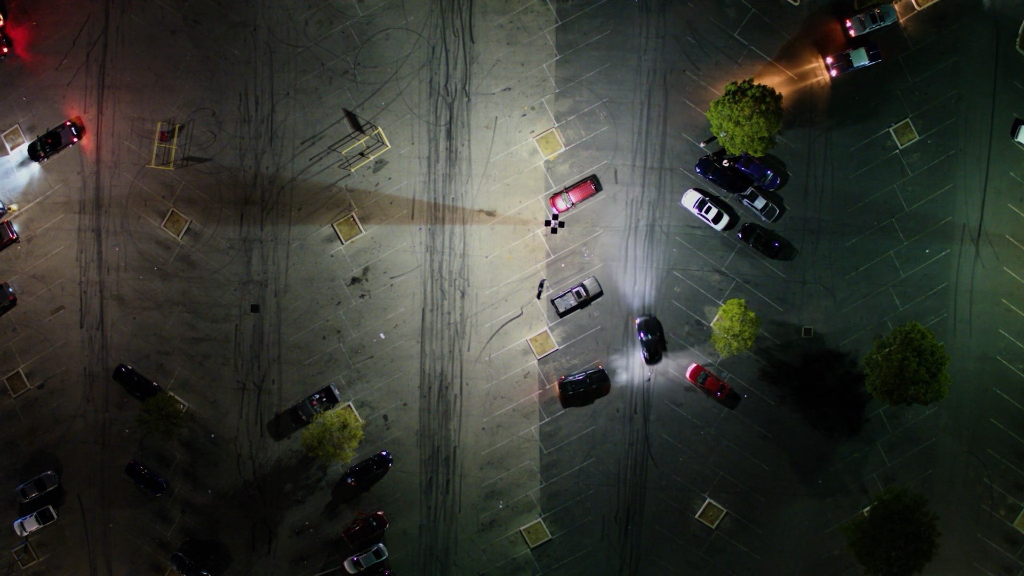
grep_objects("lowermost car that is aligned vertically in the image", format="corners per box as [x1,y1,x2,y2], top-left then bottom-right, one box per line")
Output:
[635,314,662,365]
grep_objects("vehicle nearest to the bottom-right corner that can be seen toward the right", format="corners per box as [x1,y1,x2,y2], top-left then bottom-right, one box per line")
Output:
[686,364,736,406]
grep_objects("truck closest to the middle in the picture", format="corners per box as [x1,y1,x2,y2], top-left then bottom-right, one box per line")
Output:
[550,276,604,318]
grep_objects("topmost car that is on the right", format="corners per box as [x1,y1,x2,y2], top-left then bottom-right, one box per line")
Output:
[846,3,897,38]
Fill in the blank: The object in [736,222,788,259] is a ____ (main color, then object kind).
black car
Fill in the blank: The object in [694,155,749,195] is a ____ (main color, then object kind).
black car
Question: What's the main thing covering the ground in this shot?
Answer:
paved ground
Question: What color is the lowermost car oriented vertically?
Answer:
black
